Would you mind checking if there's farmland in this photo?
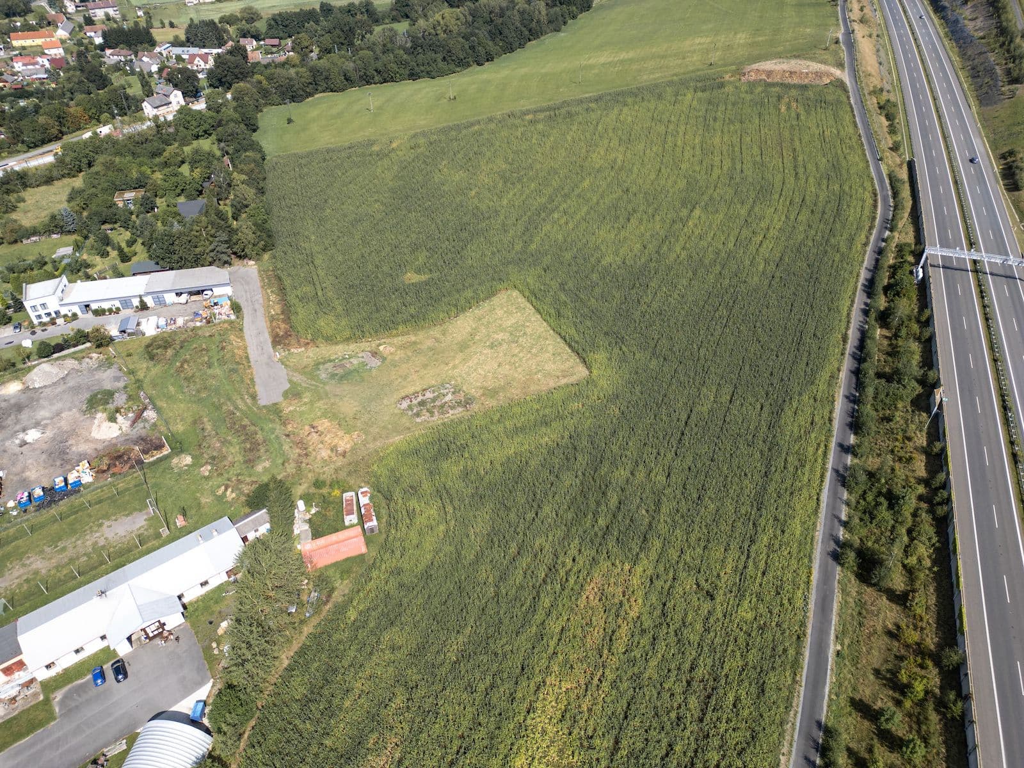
Yes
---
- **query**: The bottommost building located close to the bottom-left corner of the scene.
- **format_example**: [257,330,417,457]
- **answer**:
[112,713,207,768]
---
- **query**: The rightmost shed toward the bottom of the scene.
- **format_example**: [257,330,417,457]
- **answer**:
[301,526,368,572]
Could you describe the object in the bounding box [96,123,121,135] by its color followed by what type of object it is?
white vehicle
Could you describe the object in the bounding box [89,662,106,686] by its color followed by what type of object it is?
blue car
